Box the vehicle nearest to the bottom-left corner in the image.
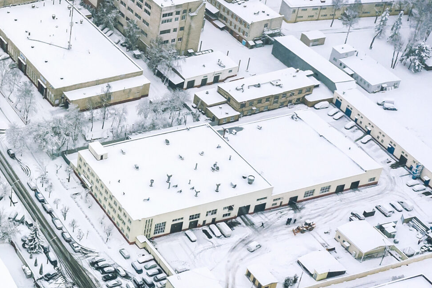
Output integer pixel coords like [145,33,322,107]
[19,263,32,279]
